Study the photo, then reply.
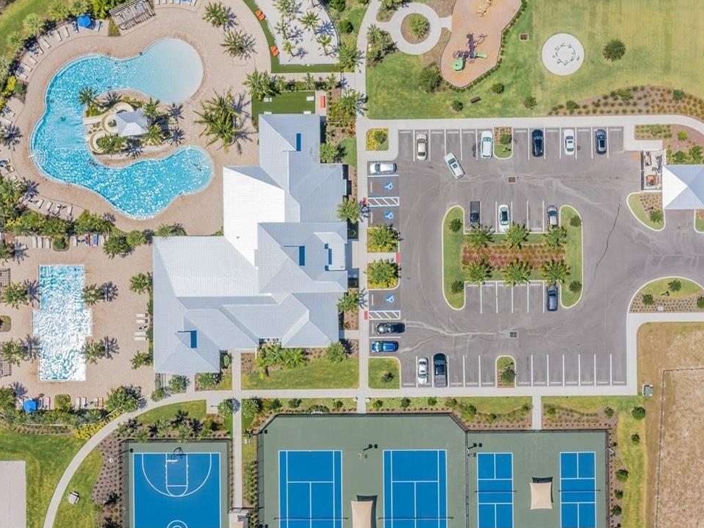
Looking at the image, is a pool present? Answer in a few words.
Yes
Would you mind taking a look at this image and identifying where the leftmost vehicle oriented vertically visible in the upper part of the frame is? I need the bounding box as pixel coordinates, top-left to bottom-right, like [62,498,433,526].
[415,133,428,160]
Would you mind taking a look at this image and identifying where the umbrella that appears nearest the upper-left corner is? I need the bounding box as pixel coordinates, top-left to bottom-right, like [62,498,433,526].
[78,14,92,28]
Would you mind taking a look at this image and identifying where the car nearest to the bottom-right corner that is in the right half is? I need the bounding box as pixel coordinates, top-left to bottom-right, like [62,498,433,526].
[546,282,559,309]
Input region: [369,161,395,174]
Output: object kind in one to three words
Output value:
vehicle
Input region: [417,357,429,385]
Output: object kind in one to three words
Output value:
vehicle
